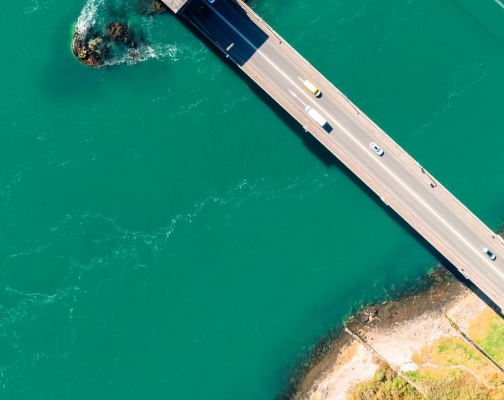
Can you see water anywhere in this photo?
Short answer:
Yes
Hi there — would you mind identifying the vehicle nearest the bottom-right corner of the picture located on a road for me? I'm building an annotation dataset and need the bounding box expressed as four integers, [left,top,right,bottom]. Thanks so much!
[482,248,496,261]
